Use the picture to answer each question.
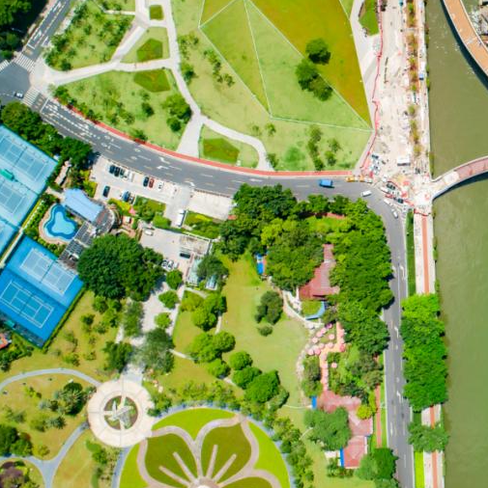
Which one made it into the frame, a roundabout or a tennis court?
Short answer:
tennis court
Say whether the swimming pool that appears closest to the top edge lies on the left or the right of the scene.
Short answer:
left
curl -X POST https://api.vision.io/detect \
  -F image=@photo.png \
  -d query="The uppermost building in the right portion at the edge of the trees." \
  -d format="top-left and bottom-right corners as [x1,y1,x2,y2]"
[299,263,340,300]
